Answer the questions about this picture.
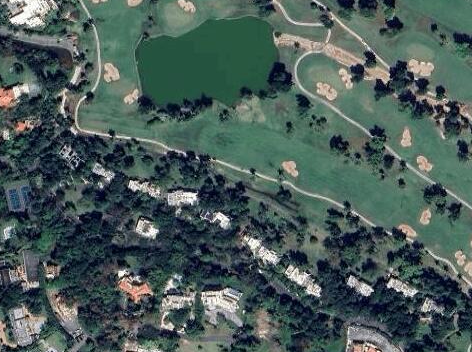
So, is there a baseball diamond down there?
No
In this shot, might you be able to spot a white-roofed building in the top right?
No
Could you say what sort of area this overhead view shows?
golf course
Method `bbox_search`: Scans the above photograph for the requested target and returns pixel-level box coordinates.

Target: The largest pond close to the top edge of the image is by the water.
[135,16,279,105]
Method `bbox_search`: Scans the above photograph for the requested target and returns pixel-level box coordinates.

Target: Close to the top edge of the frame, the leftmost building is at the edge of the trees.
[8,0,59,28]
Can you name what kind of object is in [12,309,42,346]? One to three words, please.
house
